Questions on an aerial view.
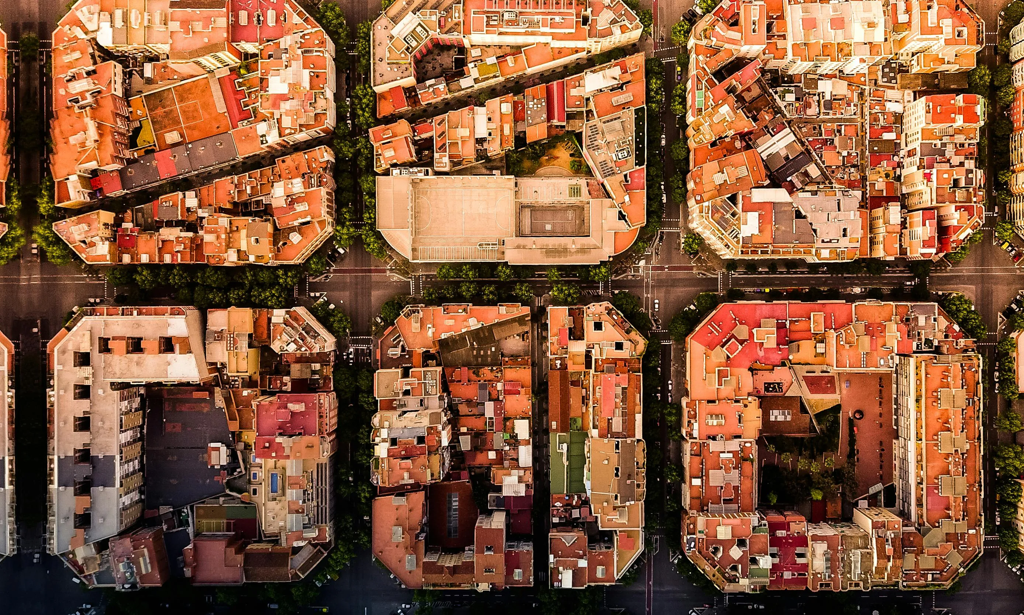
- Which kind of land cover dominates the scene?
buildings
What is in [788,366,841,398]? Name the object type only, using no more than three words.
sports court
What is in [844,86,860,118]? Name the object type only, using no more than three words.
house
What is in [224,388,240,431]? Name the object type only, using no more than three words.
building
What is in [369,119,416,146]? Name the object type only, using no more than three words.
building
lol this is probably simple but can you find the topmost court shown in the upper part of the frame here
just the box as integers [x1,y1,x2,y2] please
[143,78,232,151]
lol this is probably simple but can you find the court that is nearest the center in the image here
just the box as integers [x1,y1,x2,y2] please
[410,176,514,263]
